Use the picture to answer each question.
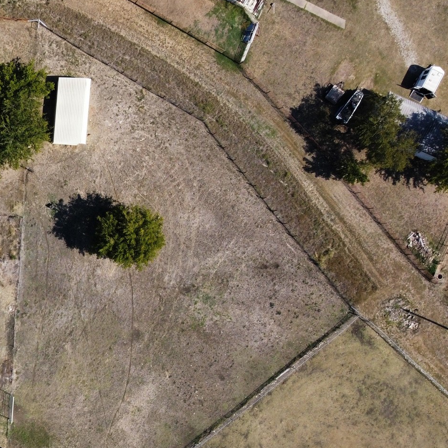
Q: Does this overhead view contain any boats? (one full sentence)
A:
Yes, the frame does contain a boat.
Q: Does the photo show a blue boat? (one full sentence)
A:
No, the photo shows no blue boat.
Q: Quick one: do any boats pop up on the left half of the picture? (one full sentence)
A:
No, there is no boat on the left half of the picture.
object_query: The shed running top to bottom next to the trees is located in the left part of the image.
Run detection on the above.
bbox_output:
[51,77,91,148]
